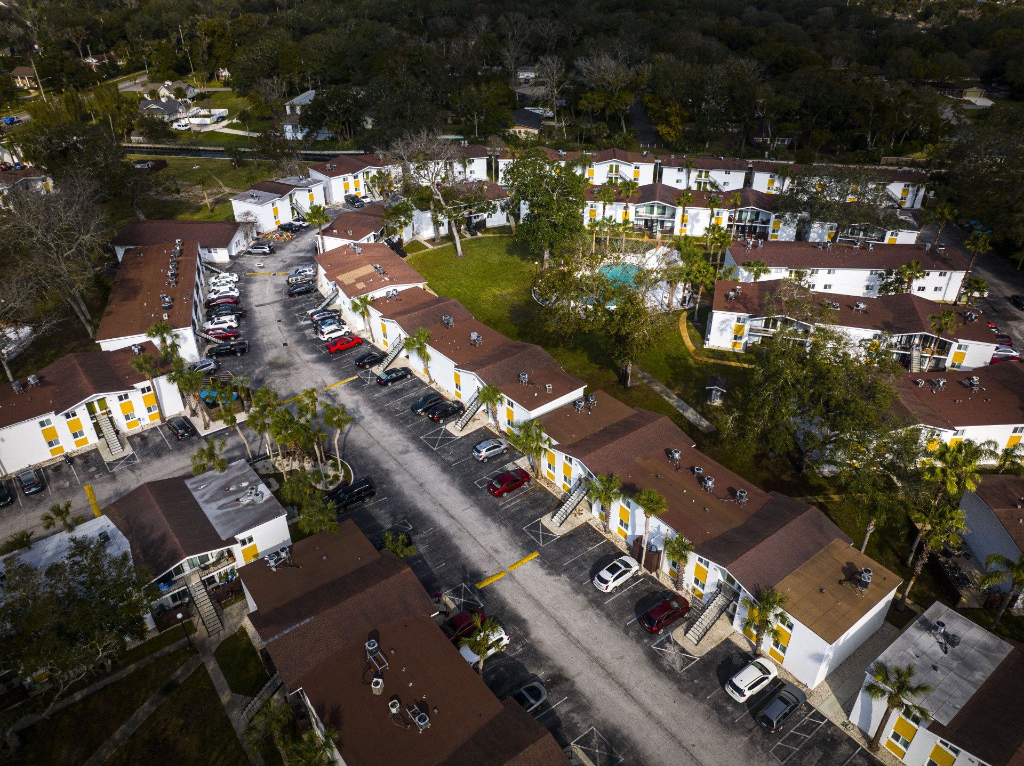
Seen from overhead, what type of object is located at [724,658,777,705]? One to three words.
car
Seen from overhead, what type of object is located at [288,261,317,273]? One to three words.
vehicle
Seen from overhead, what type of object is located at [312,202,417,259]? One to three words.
building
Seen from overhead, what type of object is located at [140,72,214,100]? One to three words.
house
